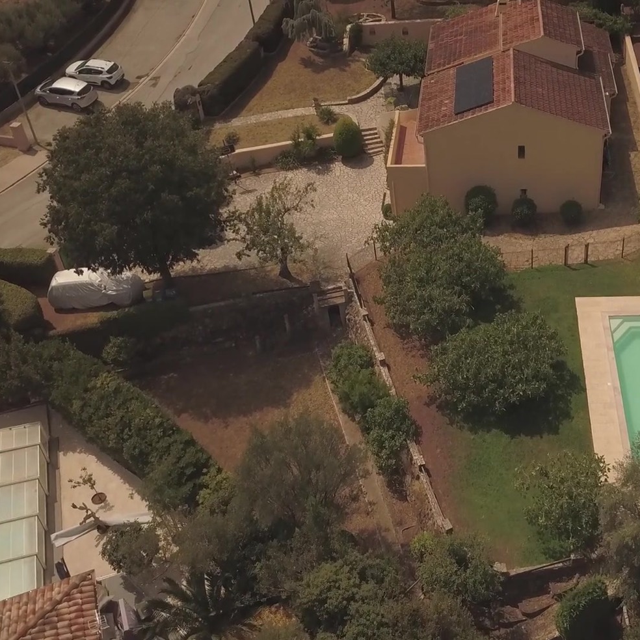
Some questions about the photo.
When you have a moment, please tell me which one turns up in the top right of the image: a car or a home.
home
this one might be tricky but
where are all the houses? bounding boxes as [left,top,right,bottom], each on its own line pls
[0,567,107,640]
[387,0,620,215]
